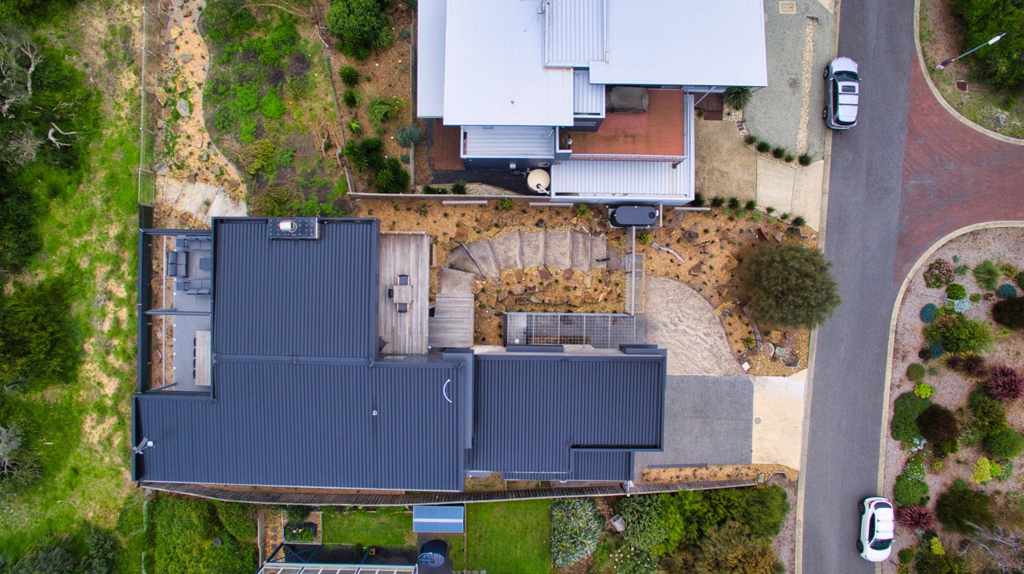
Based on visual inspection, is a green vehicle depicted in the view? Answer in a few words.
No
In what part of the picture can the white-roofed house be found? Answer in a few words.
top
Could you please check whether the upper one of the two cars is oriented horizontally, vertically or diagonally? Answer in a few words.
vertically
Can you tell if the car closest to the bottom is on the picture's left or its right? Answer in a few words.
right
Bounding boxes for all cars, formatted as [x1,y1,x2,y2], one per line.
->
[858,498,897,562]
[824,57,864,134]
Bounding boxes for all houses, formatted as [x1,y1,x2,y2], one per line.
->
[417,0,767,205]
[132,217,666,492]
